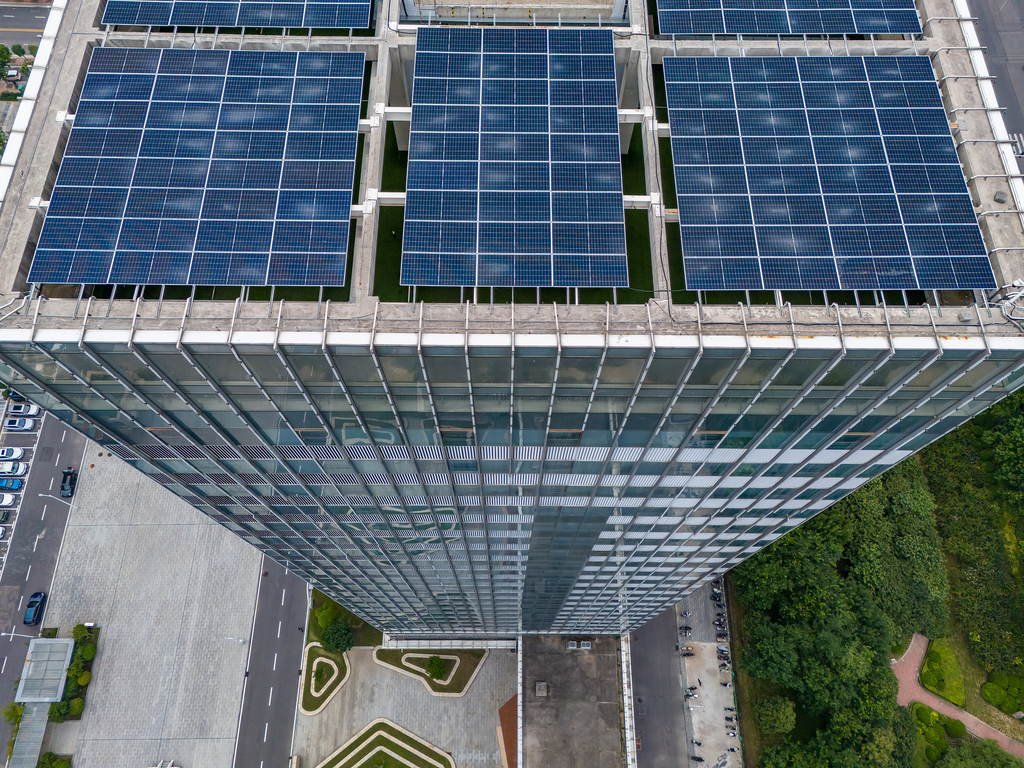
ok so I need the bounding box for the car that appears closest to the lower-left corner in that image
[23,593,47,627]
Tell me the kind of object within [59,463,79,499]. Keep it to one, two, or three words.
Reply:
car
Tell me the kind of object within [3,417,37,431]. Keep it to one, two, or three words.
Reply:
car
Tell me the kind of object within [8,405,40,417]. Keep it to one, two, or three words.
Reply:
vehicle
